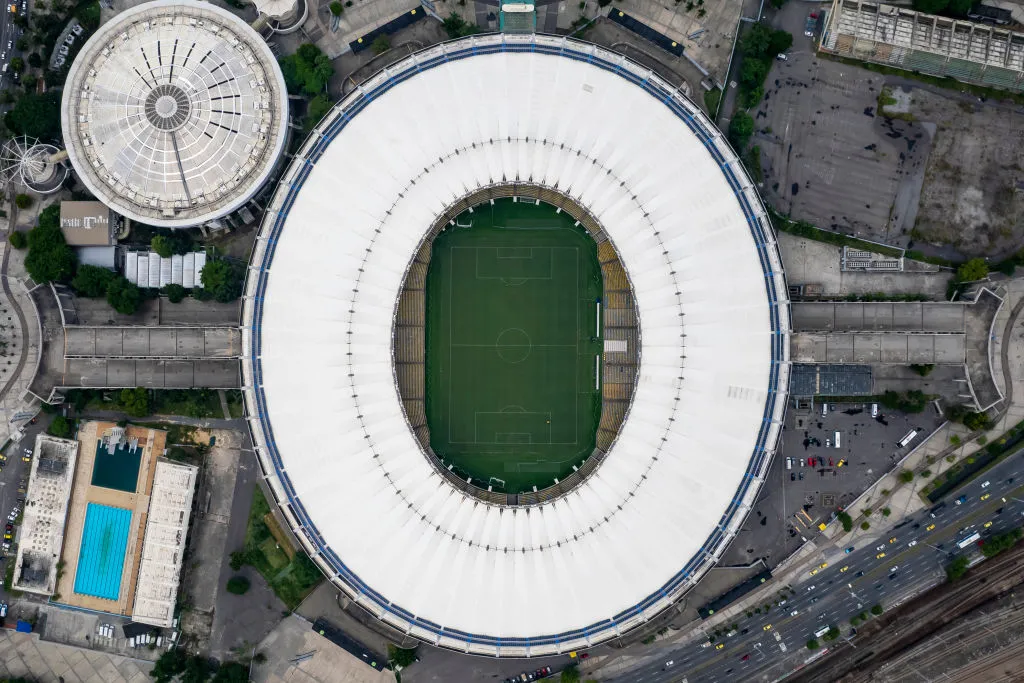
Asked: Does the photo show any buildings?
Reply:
Yes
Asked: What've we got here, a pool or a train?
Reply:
pool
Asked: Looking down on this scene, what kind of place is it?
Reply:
sports ground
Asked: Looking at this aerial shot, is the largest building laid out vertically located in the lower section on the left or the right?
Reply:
left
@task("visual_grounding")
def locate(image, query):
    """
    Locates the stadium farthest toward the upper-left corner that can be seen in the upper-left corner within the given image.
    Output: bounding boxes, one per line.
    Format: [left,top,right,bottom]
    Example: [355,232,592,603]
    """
[62,0,306,238]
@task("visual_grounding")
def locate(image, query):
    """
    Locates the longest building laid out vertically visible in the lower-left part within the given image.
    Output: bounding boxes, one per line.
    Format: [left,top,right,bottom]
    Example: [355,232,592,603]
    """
[12,433,84,595]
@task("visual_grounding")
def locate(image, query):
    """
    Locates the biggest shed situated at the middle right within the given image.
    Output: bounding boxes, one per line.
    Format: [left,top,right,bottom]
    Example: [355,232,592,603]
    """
[789,365,871,396]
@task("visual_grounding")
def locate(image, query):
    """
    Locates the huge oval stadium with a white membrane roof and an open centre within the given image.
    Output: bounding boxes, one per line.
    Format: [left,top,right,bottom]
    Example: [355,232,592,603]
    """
[242,34,790,657]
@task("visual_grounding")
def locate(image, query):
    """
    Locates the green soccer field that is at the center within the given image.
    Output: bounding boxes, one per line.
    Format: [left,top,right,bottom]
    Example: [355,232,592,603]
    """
[426,198,603,493]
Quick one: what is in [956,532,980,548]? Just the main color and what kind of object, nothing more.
white vehicle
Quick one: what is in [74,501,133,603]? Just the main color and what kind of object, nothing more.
blue swimming pool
